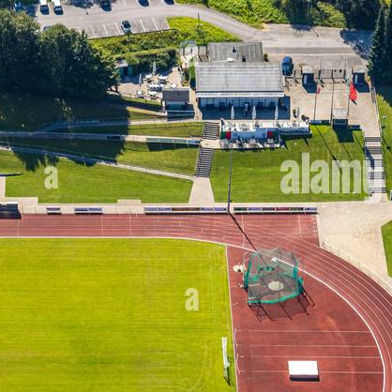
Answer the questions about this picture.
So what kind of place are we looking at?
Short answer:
sports ground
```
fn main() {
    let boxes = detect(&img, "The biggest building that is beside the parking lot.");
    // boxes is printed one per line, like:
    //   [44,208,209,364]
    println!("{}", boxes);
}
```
[195,42,286,106]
